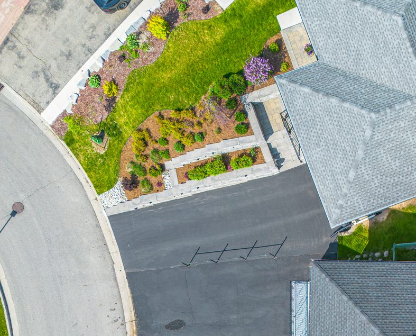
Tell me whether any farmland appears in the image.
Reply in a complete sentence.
No, there is no farmland in the image.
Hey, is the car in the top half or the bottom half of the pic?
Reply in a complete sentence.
The top half of the photo is where the car is.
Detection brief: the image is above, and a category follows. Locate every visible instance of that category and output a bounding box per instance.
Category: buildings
[274,0,416,231]
[307,258,416,336]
